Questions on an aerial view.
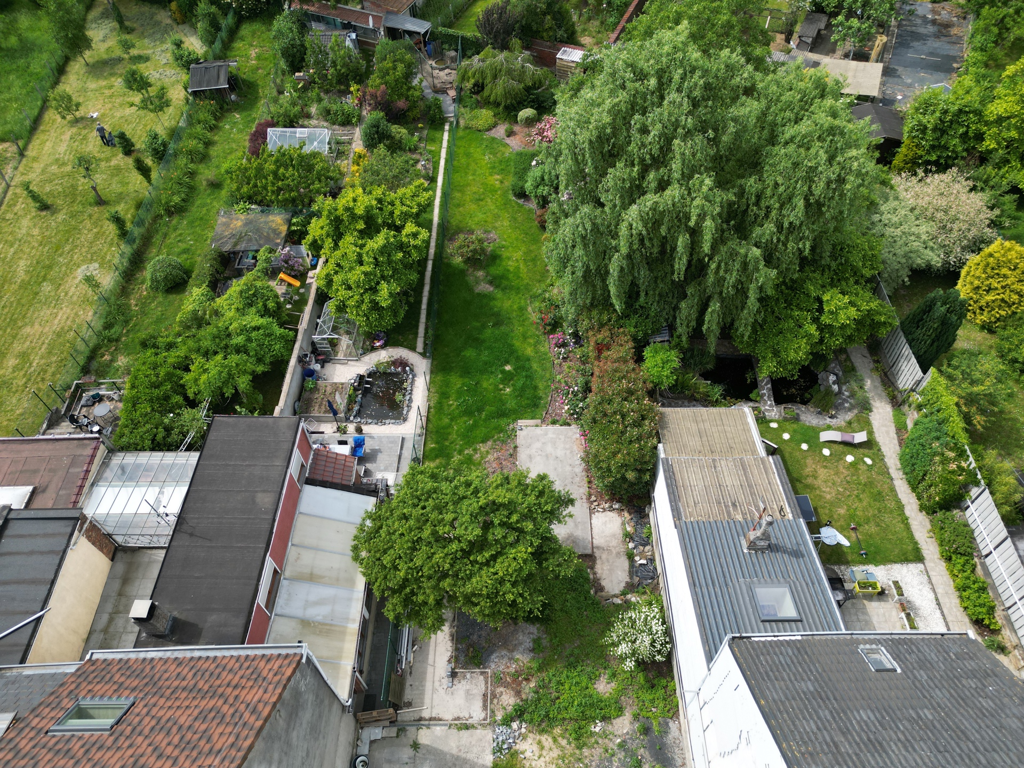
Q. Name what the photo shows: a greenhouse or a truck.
greenhouse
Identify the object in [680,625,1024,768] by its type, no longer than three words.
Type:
house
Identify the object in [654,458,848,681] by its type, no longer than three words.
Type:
shed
